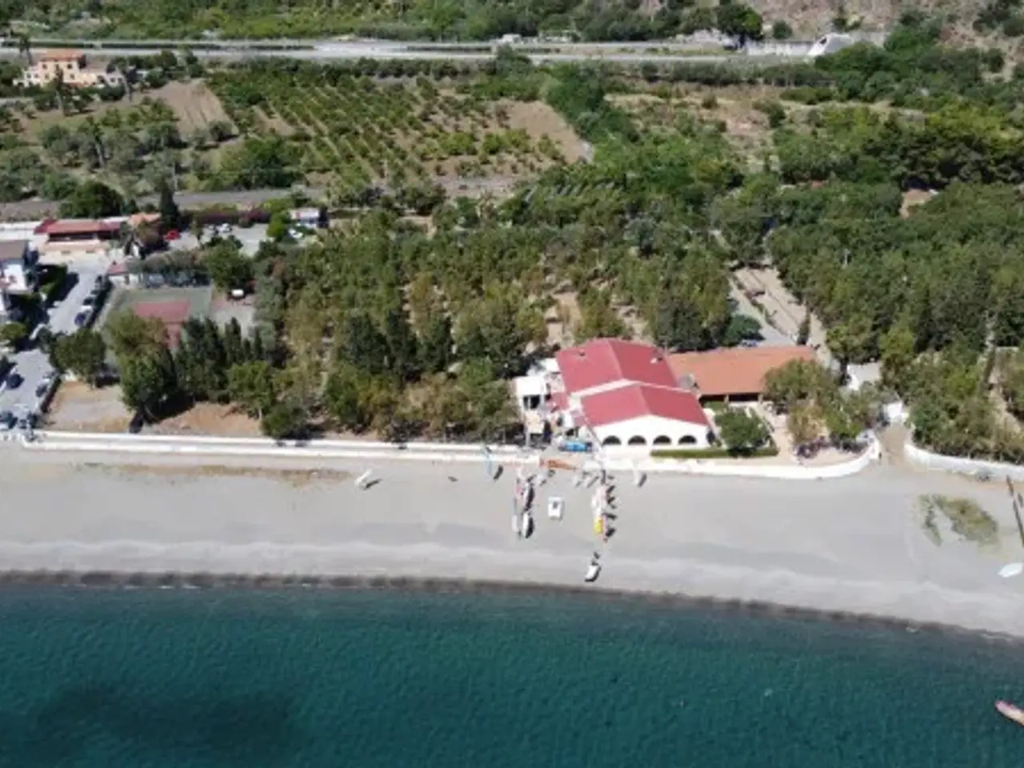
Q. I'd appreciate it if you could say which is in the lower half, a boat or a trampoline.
boat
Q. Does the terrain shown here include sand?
Yes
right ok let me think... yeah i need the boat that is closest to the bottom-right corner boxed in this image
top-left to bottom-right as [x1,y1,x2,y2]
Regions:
[994,701,1024,726]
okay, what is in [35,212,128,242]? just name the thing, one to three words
building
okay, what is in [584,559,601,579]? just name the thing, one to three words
boat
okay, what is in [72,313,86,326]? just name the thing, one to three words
vehicle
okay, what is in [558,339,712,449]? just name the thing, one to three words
building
